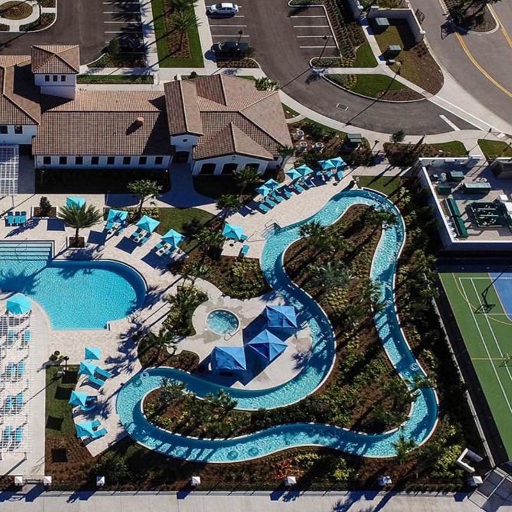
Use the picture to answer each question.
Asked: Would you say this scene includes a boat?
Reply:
No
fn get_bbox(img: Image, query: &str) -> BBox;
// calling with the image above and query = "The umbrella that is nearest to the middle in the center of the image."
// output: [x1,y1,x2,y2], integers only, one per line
[225,224,243,242]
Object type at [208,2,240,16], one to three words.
vehicle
